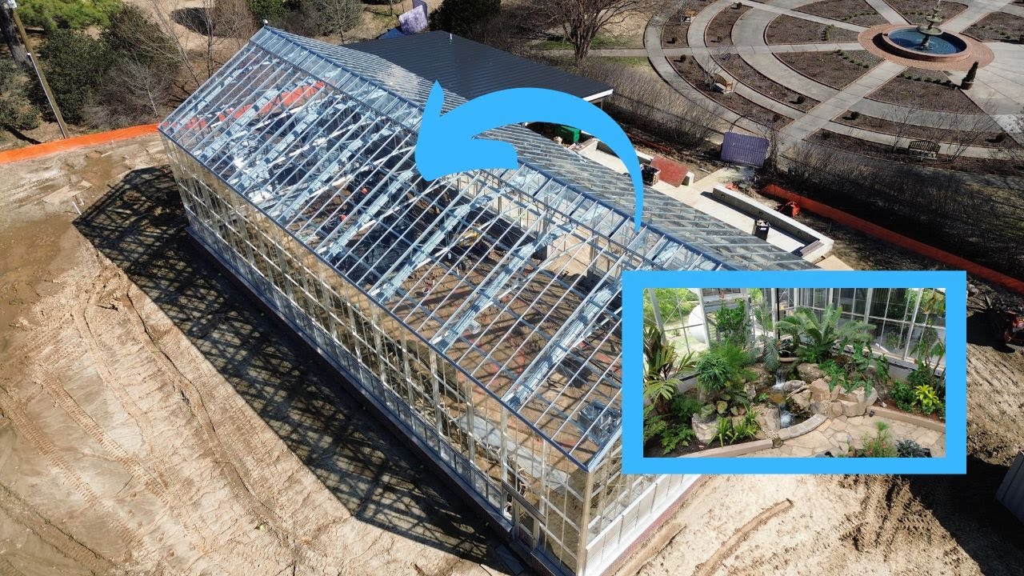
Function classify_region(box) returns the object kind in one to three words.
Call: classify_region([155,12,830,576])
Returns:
greenhouse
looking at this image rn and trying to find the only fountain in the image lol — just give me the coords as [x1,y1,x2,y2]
[858,0,995,71]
